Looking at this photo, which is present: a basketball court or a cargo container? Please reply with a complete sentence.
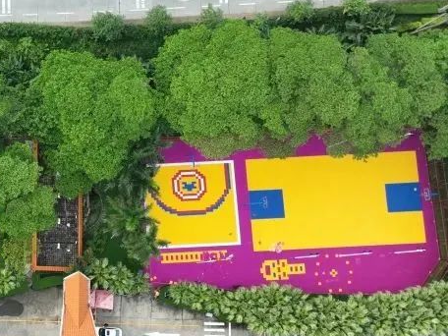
The one in the frame is a basketball court.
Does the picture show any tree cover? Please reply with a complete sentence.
Yes, there's tree cover in this view.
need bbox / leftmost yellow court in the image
[146,160,241,249]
